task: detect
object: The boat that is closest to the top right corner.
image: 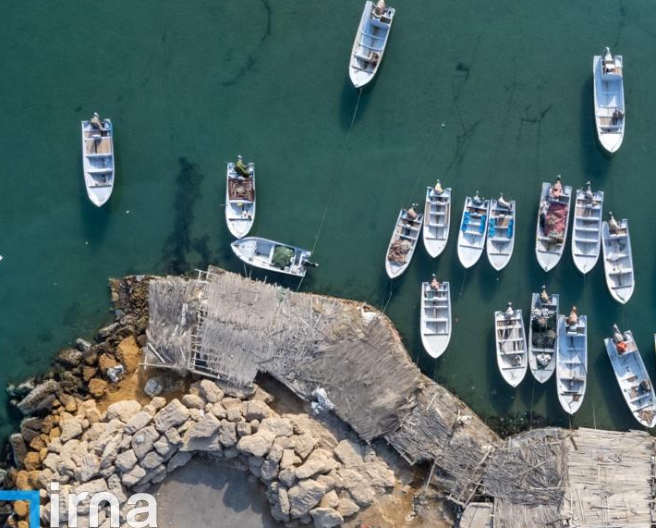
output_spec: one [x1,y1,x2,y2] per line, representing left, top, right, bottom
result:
[594,46,625,155]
